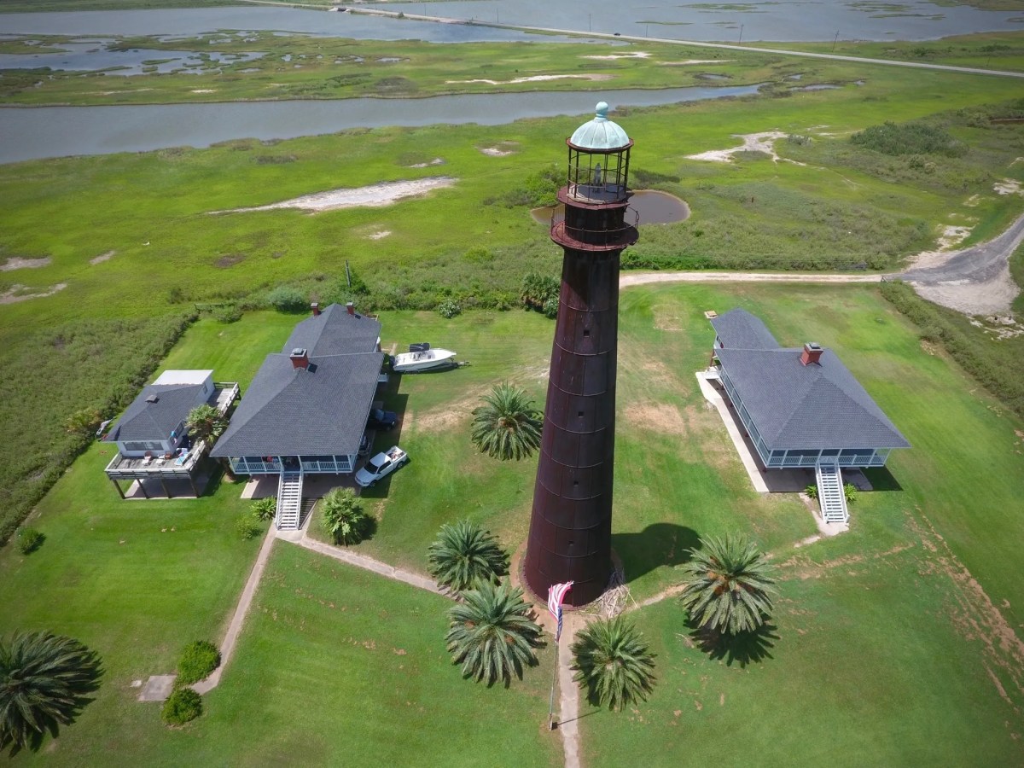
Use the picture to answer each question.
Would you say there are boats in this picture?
Yes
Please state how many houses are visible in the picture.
3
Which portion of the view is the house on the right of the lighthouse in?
right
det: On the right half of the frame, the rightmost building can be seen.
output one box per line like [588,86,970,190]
[701,304,912,523]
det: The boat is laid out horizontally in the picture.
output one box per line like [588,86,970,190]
[388,342,453,373]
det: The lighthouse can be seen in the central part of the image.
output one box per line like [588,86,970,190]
[519,98,638,627]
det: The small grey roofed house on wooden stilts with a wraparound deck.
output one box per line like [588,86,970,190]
[100,367,245,499]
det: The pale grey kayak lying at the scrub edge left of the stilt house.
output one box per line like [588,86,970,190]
[94,418,115,435]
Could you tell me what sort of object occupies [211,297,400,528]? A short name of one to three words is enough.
house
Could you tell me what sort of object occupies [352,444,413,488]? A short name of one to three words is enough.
truck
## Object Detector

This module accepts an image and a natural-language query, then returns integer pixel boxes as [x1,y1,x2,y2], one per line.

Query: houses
[100,367,245,499]
[701,304,912,523]
[211,297,400,528]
